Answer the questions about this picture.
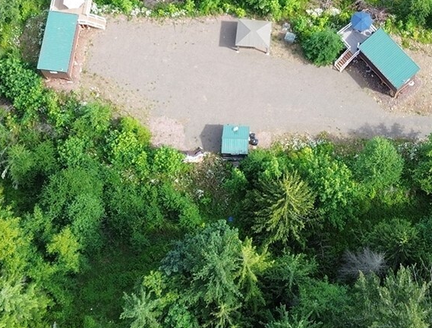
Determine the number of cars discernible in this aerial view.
0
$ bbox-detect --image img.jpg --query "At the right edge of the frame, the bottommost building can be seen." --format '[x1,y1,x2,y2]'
[356,27,421,97]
